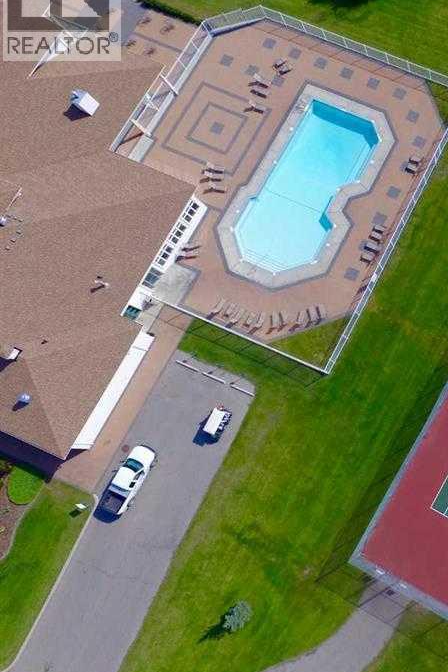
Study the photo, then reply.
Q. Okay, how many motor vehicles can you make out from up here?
2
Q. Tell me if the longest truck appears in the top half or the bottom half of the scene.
bottom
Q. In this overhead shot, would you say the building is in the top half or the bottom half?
top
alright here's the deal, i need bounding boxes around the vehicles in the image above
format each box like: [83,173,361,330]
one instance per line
[203,405,235,436]
[92,444,159,518]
